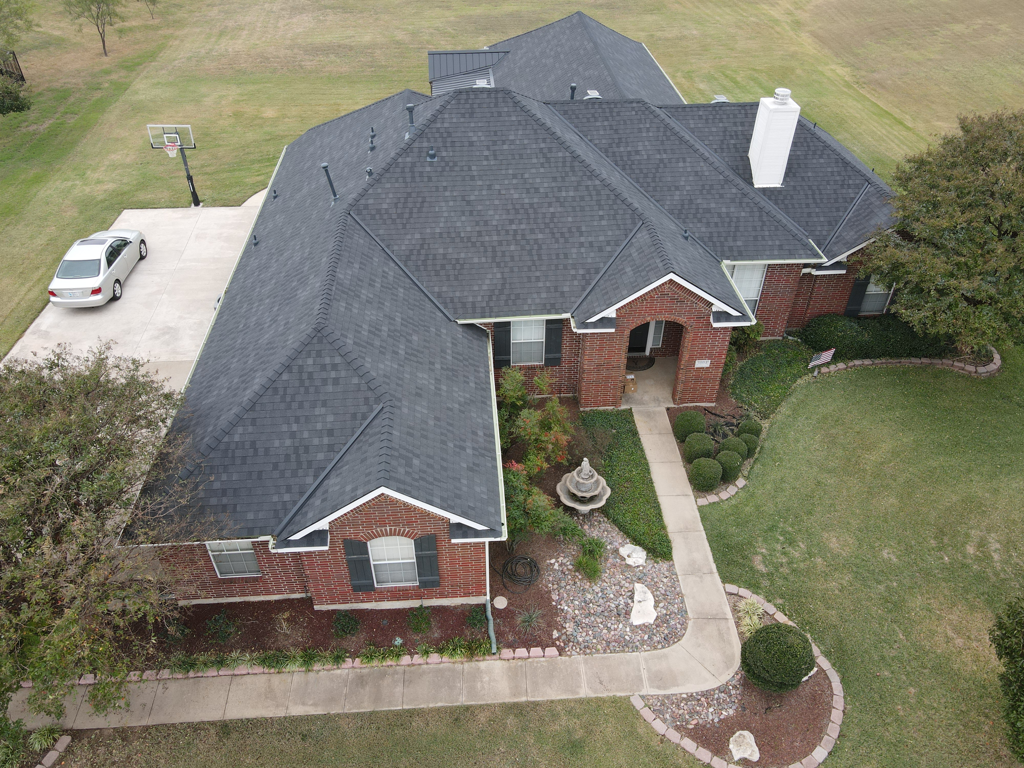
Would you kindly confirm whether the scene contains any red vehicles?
No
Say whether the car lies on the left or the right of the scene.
left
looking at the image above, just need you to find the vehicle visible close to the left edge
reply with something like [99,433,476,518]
[47,229,145,309]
